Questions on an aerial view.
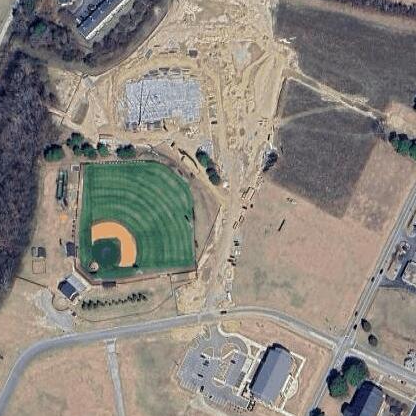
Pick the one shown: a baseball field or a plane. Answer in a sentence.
The image shows a baseball field.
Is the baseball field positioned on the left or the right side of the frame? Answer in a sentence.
The baseball field is on the left side of the image.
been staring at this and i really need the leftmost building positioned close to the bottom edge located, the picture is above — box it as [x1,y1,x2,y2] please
[251,347,292,402]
